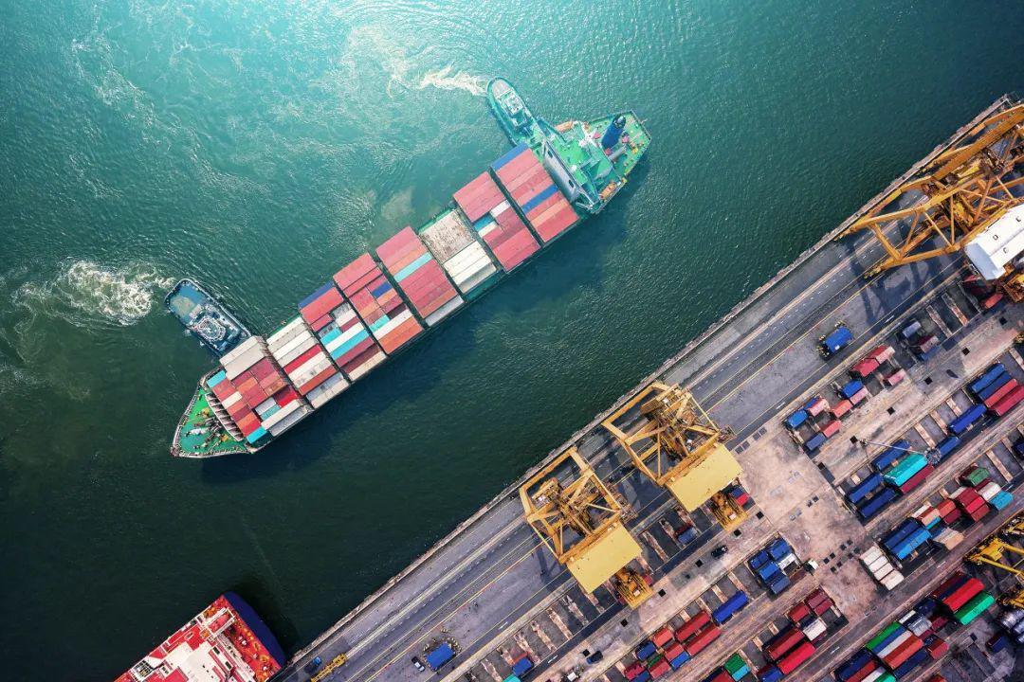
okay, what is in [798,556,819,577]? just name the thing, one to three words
truck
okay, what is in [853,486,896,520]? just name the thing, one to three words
shipping container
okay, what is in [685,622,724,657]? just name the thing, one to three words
shipping container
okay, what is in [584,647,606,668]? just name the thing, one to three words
truck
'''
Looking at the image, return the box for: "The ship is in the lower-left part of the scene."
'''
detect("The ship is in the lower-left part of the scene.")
[114,590,286,682]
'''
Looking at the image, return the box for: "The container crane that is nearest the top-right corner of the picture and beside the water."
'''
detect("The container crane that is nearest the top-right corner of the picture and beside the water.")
[929,101,1024,200]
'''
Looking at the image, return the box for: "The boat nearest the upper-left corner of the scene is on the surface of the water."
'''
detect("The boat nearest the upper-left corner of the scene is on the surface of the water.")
[164,279,247,354]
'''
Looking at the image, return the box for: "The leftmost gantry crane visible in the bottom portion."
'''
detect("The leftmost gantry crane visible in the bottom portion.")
[517,444,663,623]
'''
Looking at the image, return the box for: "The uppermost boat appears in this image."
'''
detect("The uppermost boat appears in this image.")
[487,71,542,145]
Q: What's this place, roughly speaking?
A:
port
